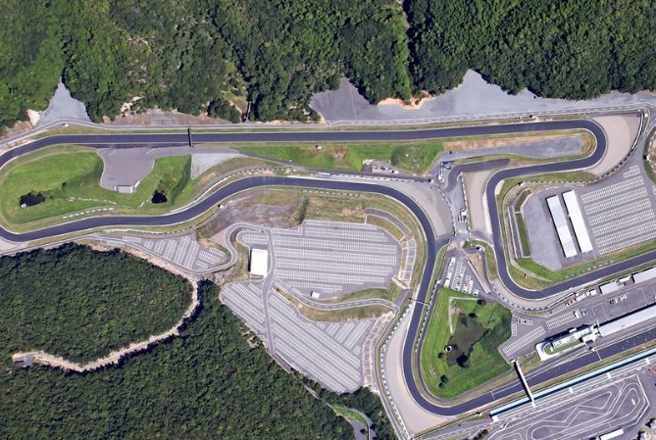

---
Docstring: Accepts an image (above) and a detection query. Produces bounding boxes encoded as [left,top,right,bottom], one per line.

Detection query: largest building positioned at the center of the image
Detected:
[250,249,268,276]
